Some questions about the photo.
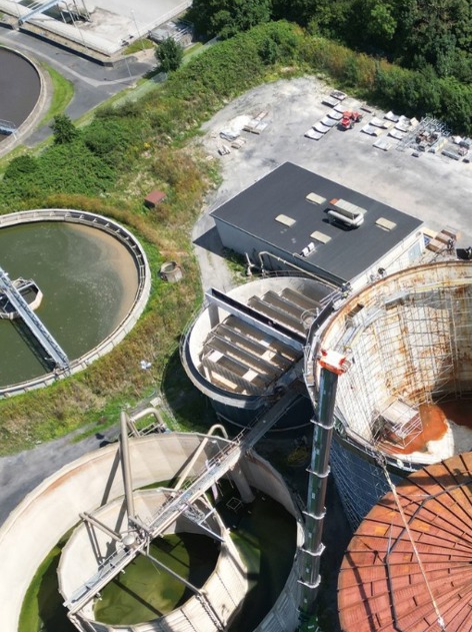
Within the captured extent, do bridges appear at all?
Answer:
Yes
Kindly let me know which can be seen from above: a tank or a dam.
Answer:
tank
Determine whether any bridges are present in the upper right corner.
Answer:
No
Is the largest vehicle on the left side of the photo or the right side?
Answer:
right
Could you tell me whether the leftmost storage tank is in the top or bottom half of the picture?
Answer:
top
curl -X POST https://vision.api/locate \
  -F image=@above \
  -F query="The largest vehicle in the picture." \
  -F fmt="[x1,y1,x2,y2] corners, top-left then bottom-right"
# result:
[336,108,361,129]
